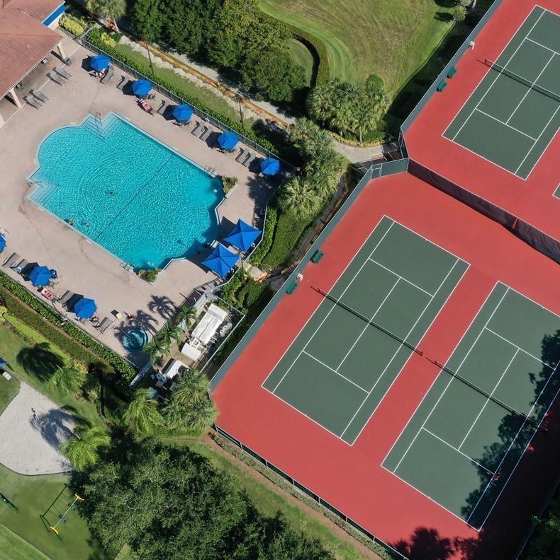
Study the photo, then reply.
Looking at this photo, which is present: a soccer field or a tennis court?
tennis court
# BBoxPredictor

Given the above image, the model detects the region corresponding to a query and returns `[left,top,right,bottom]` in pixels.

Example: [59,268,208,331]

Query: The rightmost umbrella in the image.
[261,157,281,178]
